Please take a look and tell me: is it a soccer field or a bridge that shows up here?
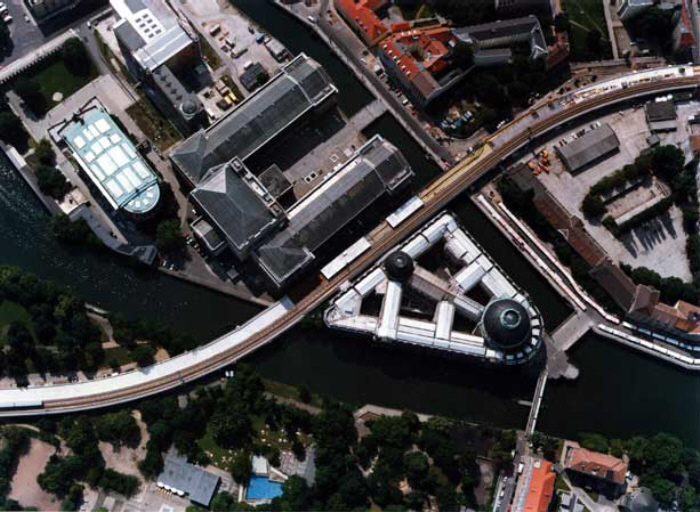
bridge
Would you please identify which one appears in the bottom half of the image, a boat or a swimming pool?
swimming pool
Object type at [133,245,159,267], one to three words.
building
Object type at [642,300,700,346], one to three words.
house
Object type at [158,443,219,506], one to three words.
building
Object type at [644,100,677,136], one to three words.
shed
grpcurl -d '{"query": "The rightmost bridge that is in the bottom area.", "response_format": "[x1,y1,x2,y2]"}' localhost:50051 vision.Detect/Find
[550,310,595,354]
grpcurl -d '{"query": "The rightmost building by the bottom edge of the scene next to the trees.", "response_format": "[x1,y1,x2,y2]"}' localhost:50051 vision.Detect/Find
[617,481,661,512]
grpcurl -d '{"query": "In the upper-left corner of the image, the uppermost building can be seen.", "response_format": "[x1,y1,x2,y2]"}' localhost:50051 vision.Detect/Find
[25,0,86,40]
